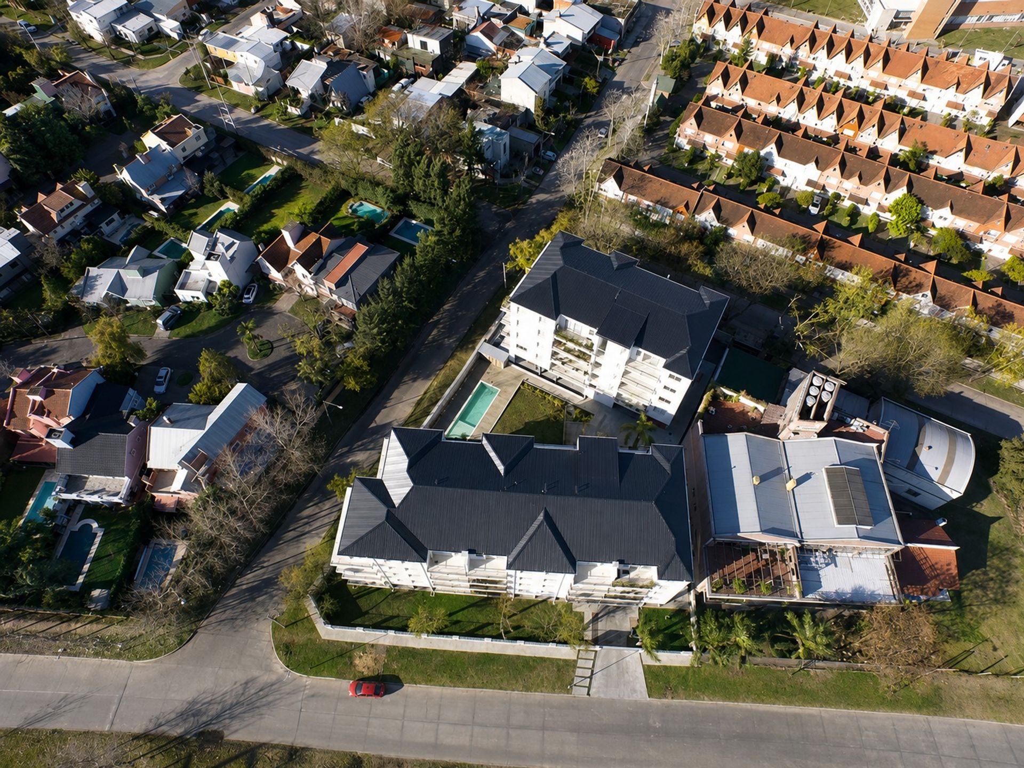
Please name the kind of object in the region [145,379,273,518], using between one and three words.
house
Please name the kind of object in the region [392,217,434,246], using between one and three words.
swimming pool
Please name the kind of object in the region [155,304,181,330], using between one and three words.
car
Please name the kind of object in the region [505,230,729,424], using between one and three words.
building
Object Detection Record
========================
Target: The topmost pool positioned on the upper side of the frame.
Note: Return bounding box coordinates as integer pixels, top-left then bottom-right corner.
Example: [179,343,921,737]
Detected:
[243,164,284,195]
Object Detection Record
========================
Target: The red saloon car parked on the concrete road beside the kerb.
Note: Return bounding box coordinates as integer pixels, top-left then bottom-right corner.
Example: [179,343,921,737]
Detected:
[348,678,386,698]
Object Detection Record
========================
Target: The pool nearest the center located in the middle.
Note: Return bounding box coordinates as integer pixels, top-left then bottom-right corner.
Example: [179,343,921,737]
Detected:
[446,380,499,442]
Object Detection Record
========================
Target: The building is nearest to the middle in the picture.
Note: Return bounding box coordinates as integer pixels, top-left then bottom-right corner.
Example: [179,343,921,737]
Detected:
[485,350,511,377]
